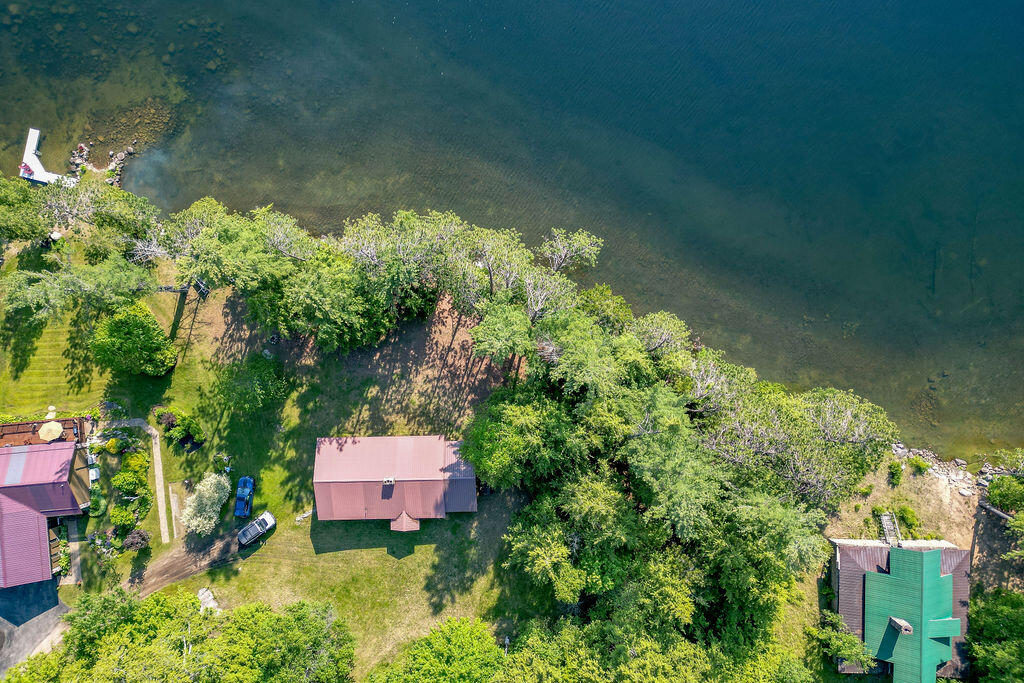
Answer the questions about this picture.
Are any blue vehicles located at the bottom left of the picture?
Yes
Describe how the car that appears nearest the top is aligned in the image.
up and down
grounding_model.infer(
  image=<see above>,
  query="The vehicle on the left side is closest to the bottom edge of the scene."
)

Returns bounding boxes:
[237,512,278,548]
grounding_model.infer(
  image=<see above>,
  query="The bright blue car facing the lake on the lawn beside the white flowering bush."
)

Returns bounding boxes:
[234,476,256,518]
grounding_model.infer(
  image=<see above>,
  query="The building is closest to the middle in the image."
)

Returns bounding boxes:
[312,435,477,531]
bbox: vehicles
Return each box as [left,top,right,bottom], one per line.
[234,476,256,518]
[237,512,278,548]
